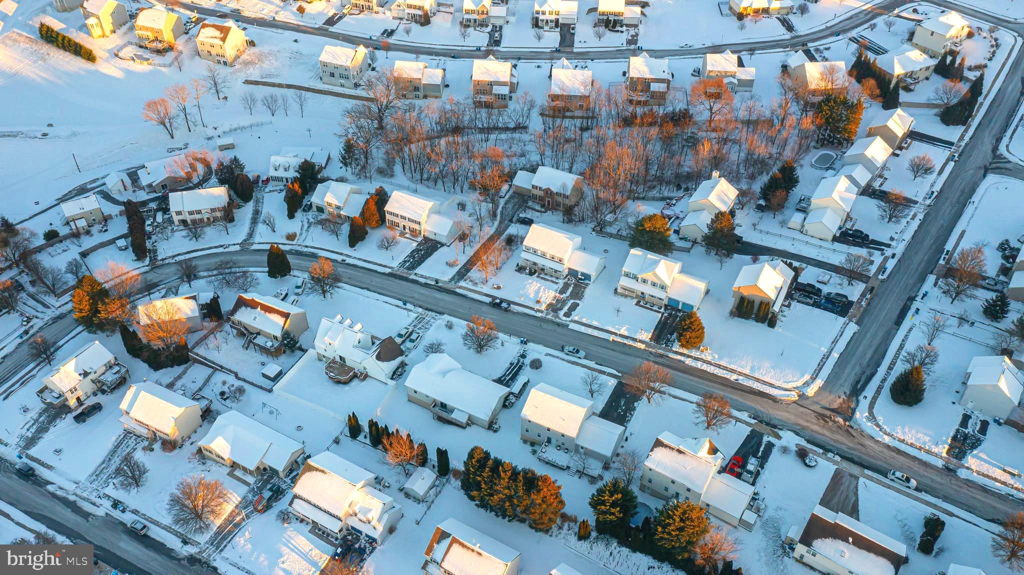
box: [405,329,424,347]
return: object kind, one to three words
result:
car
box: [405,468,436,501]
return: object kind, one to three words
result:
shed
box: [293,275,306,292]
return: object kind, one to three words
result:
vehicle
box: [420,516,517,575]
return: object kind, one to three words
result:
house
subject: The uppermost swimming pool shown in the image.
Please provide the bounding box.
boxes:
[131,50,151,63]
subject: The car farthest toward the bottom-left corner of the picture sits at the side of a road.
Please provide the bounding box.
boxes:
[11,457,37,475]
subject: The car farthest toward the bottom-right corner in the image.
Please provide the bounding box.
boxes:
[889,470,918,488]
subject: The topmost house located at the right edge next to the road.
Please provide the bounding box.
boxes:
[911,14,978,59]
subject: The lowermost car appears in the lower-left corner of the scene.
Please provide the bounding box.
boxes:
[122,519,150,537]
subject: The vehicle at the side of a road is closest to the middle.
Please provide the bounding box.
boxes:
[489,297,514,312]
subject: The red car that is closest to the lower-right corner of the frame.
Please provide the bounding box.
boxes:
[727,454,745,475]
